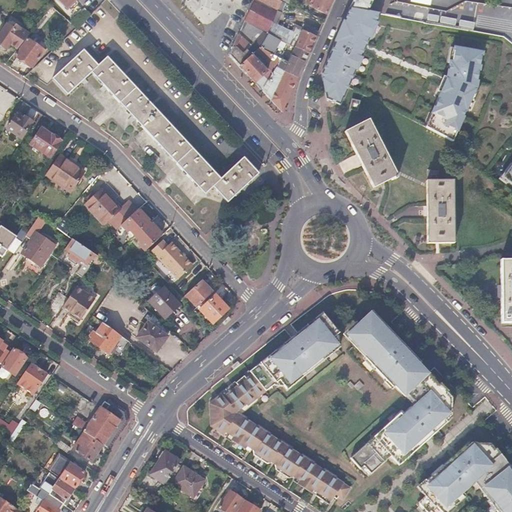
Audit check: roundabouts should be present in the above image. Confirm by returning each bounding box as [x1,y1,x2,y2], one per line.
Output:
[282,194,369,282]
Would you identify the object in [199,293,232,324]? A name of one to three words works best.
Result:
house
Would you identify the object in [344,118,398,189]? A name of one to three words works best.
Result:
building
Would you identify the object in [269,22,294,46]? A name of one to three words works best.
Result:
building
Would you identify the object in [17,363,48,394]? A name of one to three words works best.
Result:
house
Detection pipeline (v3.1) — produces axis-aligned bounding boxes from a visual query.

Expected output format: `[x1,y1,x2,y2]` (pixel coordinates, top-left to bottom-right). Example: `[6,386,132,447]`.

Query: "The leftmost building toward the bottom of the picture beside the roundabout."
[262,312,344,390]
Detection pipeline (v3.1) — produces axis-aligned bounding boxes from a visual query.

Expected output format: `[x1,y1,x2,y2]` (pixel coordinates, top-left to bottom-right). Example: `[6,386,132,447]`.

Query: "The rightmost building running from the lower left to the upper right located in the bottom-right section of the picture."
[414,440,500,512]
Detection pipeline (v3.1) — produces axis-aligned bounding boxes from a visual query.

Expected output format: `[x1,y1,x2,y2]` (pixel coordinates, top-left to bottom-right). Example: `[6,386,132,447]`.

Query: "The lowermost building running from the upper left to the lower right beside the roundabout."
[344,310,446,402]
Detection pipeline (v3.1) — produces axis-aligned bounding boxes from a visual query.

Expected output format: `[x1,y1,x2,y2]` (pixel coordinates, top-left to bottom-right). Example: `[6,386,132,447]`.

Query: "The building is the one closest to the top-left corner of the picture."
[0,18,32,52]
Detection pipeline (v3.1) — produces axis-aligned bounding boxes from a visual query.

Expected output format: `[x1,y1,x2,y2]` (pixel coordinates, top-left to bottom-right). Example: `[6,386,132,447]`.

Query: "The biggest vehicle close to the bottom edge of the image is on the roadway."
[101,472,118,494]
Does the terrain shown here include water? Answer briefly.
No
